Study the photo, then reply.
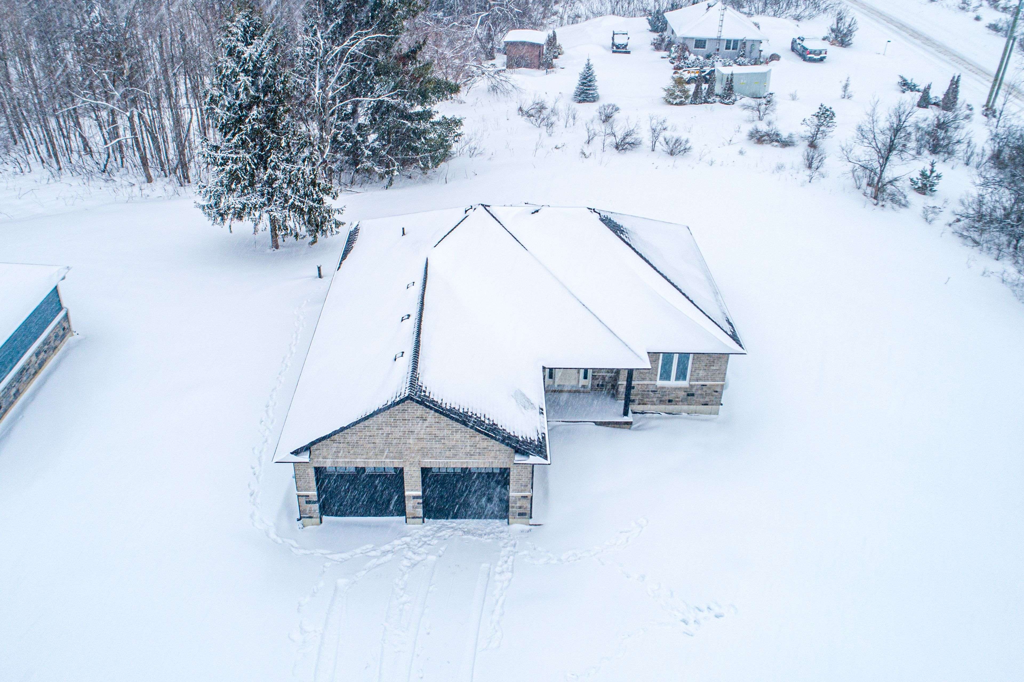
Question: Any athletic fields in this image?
No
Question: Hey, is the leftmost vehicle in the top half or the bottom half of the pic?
top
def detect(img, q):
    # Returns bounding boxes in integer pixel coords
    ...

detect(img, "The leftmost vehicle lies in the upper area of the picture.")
[611,25,631,54]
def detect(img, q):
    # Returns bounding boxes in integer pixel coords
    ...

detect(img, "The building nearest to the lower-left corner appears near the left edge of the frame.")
[0,264,89,430]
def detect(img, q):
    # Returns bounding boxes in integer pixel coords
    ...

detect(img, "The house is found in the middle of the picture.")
[269,200,750,527]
